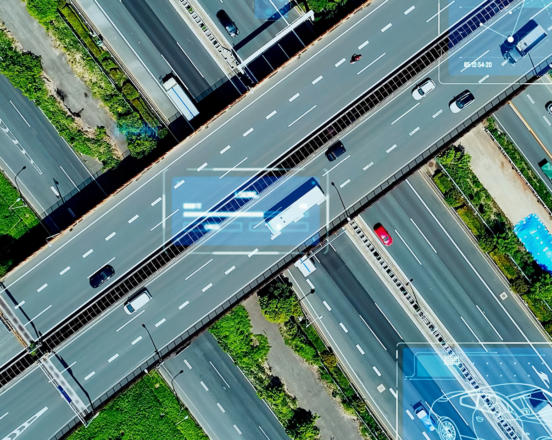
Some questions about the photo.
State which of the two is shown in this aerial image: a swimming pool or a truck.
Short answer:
truck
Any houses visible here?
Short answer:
No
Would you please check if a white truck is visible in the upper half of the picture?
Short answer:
Yes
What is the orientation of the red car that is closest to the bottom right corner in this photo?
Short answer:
on a diagonal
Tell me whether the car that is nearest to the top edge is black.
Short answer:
Yes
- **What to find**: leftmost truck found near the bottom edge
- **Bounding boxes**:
[408,398,437,432]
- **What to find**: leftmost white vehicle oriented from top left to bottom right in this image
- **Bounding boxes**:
[162,73,205,122]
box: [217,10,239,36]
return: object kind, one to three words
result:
car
